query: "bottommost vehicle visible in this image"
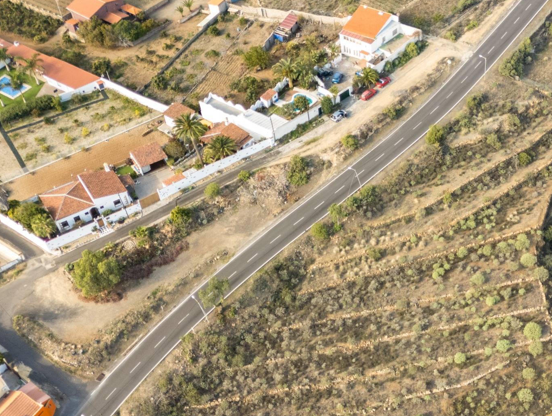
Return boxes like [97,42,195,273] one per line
[327,105,350,123]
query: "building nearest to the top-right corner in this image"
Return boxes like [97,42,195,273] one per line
[340,3,414,62]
